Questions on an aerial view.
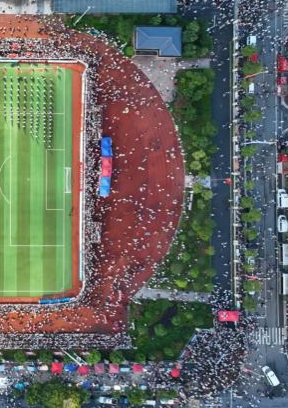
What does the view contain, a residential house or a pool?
residential house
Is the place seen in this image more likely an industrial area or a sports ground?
sports ground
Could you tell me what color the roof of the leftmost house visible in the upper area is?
blue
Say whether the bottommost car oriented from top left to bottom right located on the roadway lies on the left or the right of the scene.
right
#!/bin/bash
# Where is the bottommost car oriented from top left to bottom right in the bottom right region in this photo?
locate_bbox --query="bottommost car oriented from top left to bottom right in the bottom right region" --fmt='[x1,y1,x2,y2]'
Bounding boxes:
[258,363,279,385]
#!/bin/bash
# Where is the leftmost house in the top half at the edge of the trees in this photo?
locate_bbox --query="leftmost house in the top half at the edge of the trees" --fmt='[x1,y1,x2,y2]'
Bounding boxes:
[130,28,180,59]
